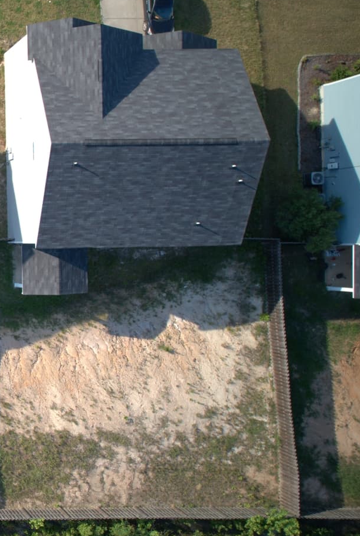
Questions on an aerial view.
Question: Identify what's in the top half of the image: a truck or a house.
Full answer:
The one visible in the top half of the image is a house.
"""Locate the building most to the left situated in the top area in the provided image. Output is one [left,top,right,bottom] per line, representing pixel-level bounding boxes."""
[6,17,269,295]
